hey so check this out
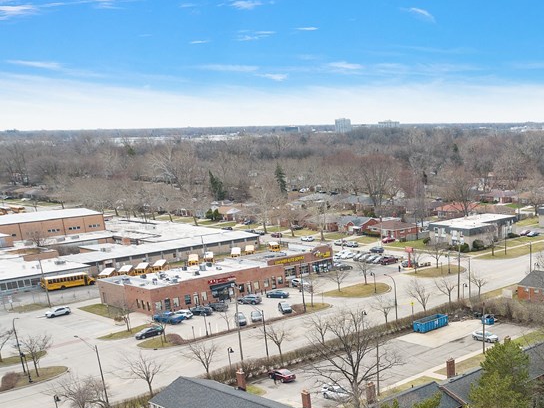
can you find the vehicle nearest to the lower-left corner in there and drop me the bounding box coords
[46,305,77,317]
